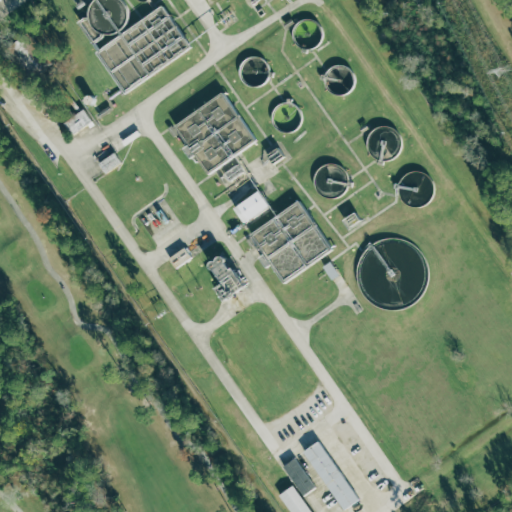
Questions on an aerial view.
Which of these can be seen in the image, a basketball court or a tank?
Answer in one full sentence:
Looking from above, you can make out a tank.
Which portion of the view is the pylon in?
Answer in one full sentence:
You can find the pylon in the top right area of the picture.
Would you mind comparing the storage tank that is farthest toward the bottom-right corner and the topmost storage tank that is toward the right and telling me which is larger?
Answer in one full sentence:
The storage tank that is farthest toward the bottom-right corner is larger than the topmost storage tank that is toward the right.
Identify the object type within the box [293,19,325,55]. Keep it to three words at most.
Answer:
storage tank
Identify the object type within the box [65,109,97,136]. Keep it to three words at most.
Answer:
building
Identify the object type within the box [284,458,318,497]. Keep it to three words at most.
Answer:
building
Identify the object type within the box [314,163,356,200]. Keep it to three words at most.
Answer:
storage tank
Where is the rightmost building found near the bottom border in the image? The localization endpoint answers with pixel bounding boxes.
[304,442,361,511]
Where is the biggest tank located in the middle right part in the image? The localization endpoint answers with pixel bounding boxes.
[357,238,430,312]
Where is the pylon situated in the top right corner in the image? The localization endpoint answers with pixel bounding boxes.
[488,64,511,87]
